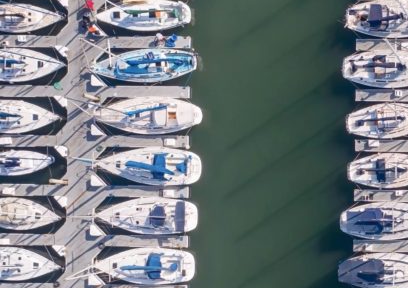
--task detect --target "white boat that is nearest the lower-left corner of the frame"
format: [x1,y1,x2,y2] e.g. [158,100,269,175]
[0,246,67,284]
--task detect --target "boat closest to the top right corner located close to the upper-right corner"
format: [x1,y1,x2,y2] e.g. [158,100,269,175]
[344,0,408,41]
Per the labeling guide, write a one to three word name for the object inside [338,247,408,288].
boat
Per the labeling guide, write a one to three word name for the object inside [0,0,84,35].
boat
